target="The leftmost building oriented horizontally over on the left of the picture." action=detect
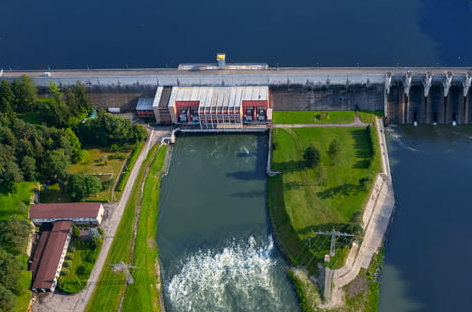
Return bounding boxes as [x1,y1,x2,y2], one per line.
[27,203,105,224]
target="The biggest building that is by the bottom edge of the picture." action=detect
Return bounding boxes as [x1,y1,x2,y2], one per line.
[34,218,73,297]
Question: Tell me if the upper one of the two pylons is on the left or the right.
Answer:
right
